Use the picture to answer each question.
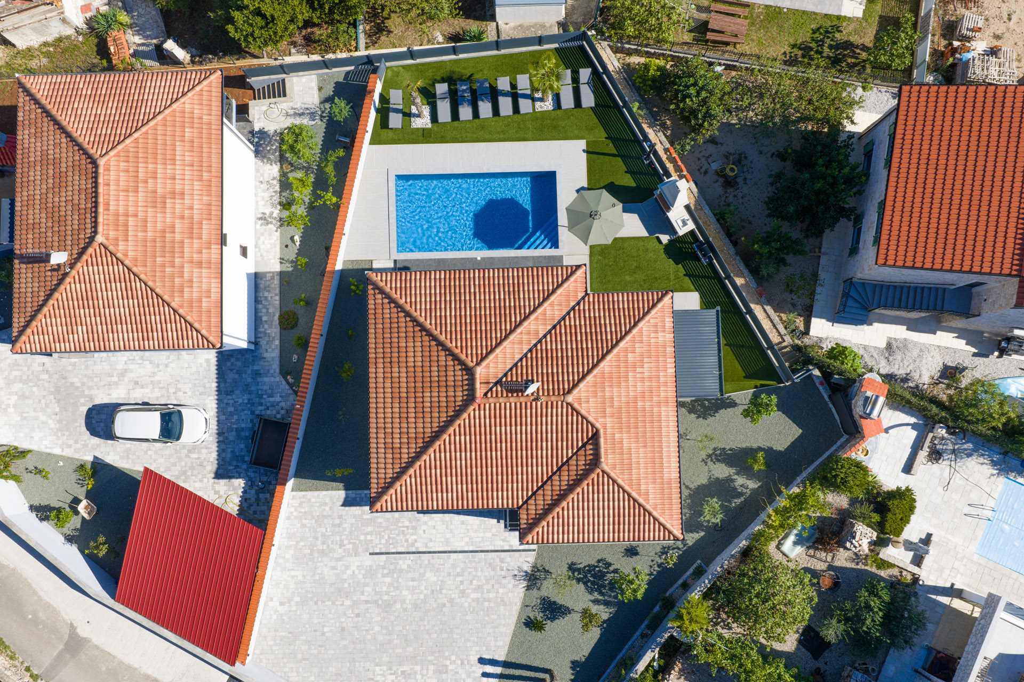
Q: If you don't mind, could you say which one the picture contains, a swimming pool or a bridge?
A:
swimming pool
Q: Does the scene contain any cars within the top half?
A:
No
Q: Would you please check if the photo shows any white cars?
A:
Yes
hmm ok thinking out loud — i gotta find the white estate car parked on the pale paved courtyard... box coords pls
[109,402,209,448]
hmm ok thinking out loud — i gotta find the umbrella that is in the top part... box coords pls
[566,189,624,246]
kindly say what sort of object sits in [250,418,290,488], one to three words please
trailer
